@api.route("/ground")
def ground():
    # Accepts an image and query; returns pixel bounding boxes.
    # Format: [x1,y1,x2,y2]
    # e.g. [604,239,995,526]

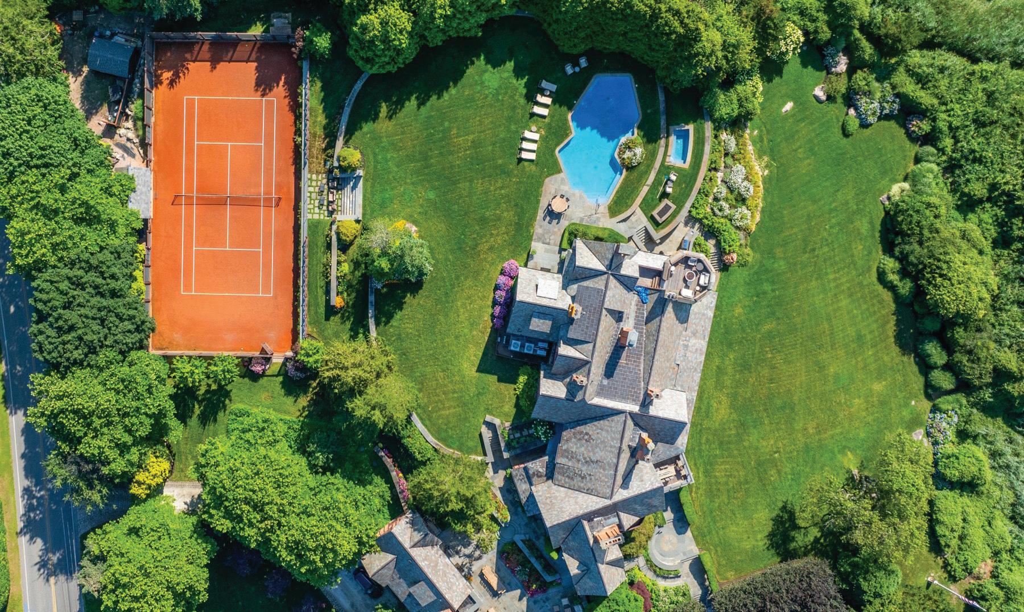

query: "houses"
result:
[495,240,717,596]
[361,503,484,612]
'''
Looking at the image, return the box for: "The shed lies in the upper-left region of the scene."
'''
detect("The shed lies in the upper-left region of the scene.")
[88,37,147,81]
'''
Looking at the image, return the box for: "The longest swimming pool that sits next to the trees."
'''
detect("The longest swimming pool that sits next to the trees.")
[557,71,642,207]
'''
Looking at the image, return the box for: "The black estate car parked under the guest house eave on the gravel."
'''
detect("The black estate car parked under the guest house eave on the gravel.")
[348,566,384,605]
